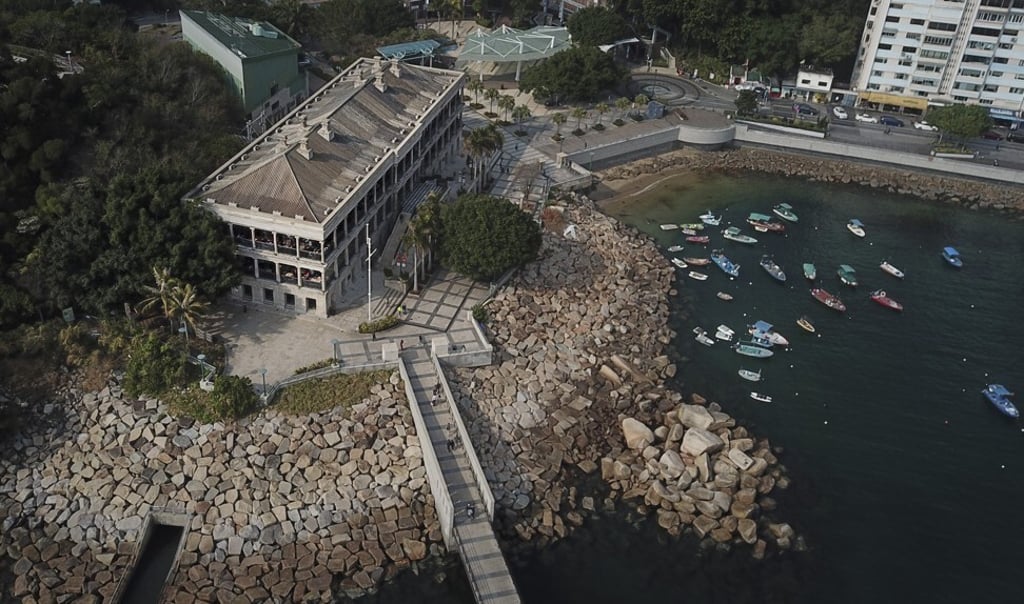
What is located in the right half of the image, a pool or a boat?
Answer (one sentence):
There is a boat in the right half of the image.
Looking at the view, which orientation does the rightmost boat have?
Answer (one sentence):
Seen from above, the rightmost boat lies at an angle.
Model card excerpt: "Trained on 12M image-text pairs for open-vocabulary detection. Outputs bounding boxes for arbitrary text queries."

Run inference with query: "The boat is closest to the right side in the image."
[979,384,1020,417]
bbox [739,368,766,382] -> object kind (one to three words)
boat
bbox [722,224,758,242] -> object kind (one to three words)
boat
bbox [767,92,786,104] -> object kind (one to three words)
vehicle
